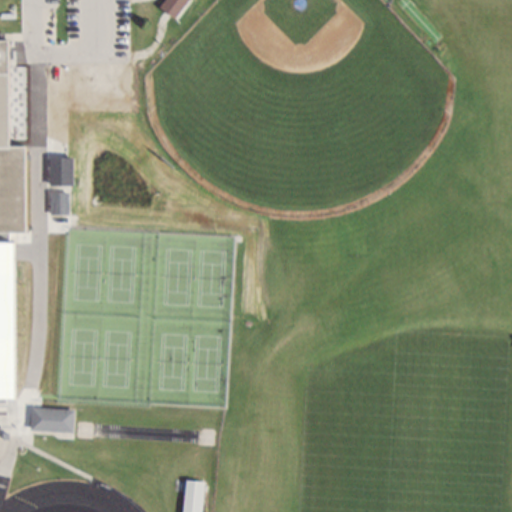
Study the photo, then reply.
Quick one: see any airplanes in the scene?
No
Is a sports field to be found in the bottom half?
Yes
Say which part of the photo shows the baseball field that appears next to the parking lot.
top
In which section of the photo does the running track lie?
bottom left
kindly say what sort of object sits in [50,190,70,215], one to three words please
building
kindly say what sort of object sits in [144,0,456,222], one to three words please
baseball field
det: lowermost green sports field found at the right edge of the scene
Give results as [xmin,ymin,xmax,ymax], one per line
[391,325,512,512]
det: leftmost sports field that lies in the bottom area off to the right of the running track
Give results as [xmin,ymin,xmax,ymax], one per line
[298,330,394,512]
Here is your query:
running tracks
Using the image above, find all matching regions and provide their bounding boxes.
[0,480,137,512]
